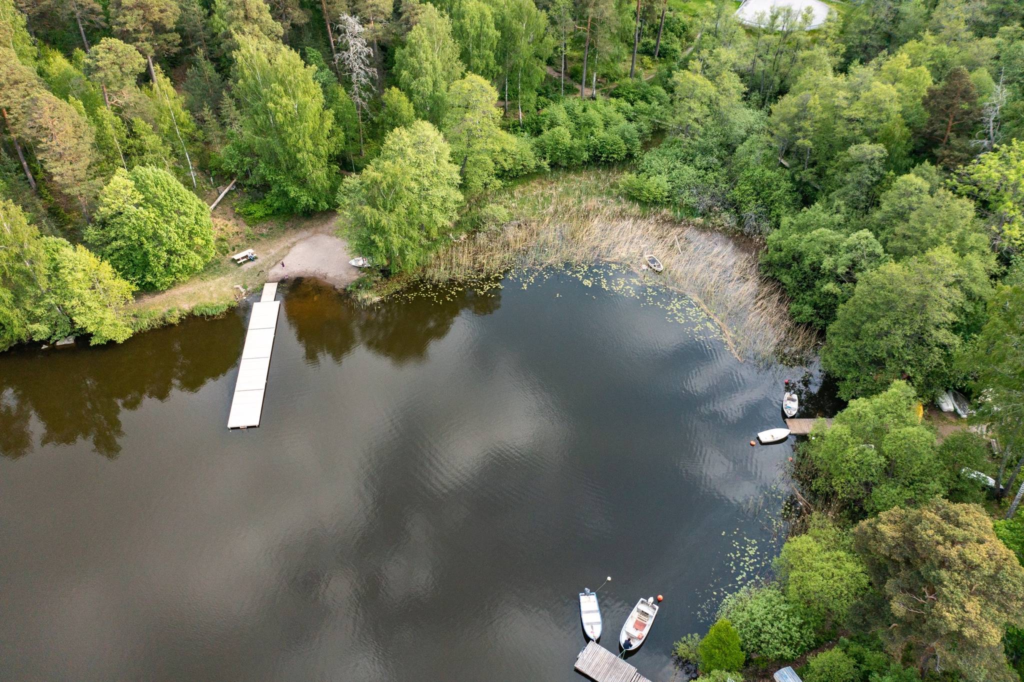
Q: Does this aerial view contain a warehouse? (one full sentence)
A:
No, no warehouse can be seen from above.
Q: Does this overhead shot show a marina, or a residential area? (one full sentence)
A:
This image shows a marina.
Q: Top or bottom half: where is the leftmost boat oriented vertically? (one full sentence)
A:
You can find the leftmost boat oriented vertically in the bottom half.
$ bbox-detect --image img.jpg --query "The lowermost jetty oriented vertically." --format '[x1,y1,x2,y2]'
[228,301,280,433]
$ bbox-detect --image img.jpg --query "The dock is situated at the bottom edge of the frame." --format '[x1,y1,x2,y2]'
[575,641,647,682]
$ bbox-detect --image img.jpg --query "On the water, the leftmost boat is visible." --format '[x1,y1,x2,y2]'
[579,583,602,642]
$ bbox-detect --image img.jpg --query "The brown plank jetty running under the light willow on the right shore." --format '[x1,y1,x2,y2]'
[785,410,850,438]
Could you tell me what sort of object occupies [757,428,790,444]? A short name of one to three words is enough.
boat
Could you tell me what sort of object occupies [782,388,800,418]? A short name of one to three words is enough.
boat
